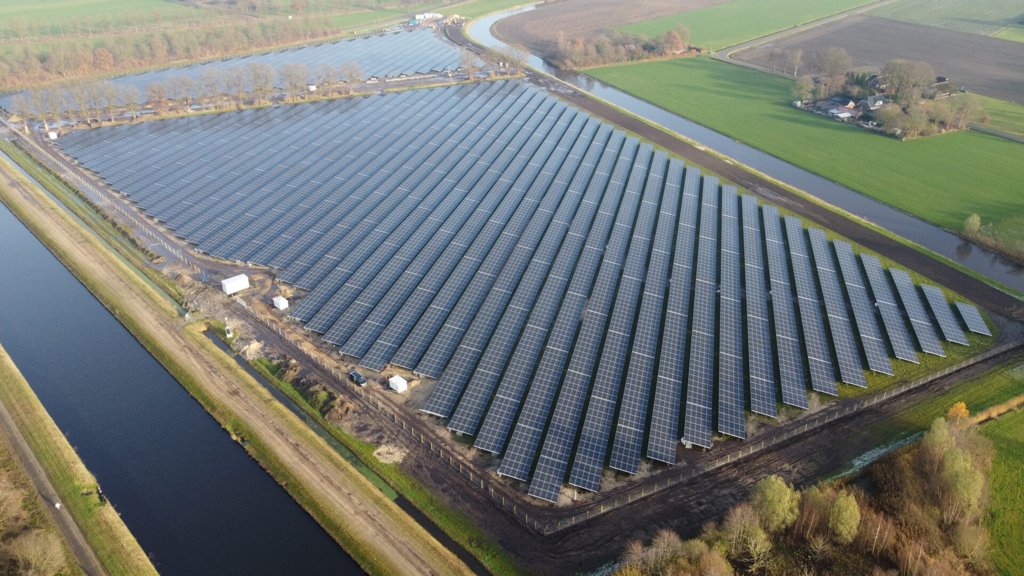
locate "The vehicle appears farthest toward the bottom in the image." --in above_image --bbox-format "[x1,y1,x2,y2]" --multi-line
[347,368,368,387]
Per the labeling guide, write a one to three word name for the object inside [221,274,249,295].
building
